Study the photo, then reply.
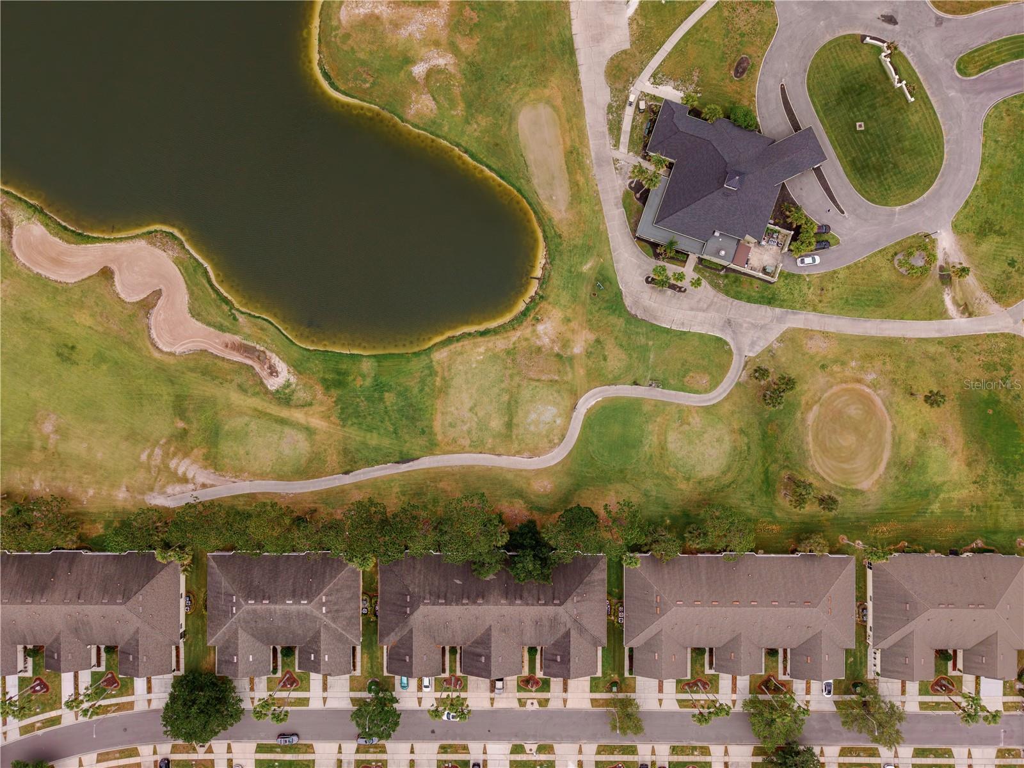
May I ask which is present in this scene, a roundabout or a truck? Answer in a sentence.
The image shows a roundabout.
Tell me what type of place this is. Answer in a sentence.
The area seen from above is a residential area.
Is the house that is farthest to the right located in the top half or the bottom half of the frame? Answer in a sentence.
The house that is farthest to the right is in the bottom half of the image.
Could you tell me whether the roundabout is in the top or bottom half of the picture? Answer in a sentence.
The roundabout sits in the top half of the picture.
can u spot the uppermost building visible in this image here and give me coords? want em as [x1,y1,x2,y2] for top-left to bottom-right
[635,99,829,268]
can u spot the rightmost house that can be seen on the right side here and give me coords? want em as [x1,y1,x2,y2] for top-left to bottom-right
[867,552,1024,683]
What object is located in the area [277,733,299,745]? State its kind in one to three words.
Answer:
vehicle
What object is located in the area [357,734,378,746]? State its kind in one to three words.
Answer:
vehicle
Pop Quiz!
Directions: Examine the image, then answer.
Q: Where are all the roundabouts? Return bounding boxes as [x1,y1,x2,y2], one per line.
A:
[806,32,946,208]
